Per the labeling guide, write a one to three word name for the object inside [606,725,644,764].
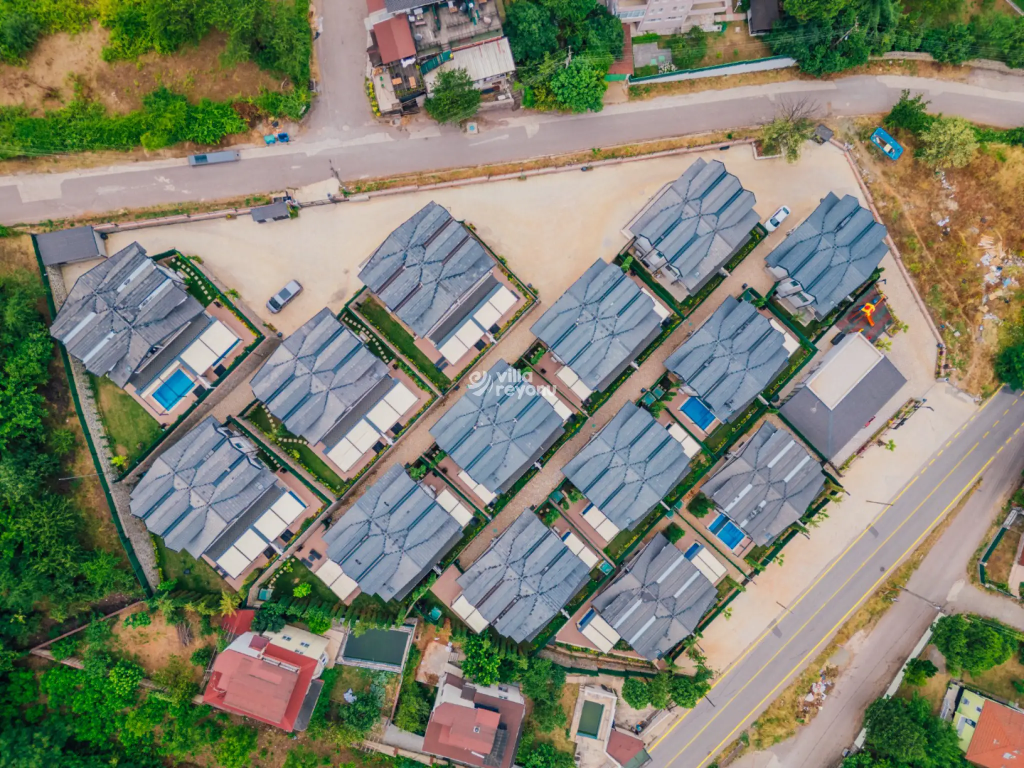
shed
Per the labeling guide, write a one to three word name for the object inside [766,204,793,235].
car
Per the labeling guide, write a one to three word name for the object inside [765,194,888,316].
house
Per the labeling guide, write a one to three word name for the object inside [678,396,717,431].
swimming pool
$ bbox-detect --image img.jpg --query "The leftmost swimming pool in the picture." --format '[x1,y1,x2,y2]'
[150,367,199,414]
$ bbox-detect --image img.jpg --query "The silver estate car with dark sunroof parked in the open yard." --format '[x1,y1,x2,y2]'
[266,278,306,315]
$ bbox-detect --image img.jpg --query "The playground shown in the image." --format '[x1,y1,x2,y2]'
[843,289,893,343]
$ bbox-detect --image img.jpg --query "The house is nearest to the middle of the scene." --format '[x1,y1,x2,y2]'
[432,358,566,493]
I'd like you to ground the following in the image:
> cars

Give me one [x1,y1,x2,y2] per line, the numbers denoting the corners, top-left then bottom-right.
[766,204,793,235]
[266,278,306,315]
